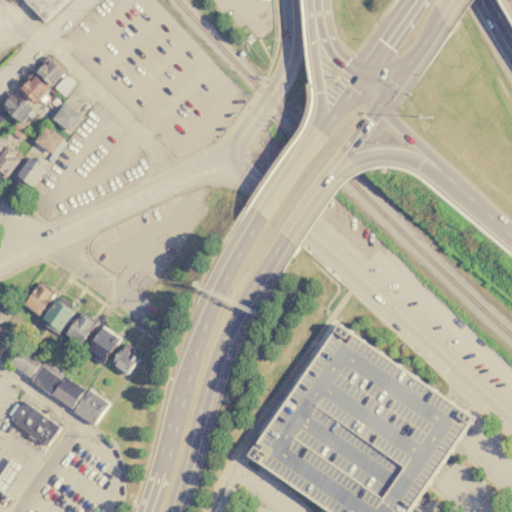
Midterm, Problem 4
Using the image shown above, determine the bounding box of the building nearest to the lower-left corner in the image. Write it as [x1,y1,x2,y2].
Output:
[10,402,60,446]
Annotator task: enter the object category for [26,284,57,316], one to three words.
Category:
house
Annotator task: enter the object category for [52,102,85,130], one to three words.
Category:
shed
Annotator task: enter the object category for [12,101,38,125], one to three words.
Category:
house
